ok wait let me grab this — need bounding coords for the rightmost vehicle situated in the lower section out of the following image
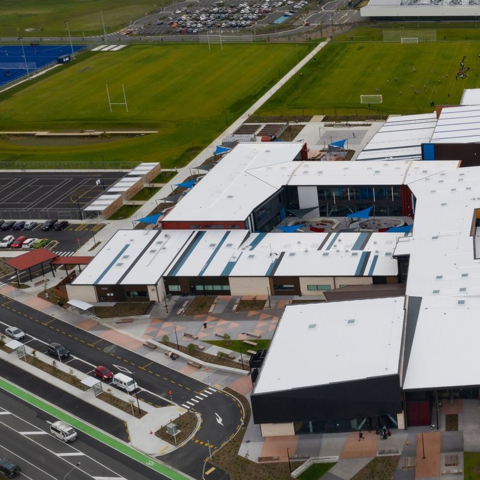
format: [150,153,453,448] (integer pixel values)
[110,370,139,391]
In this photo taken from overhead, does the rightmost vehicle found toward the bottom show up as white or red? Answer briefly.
white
